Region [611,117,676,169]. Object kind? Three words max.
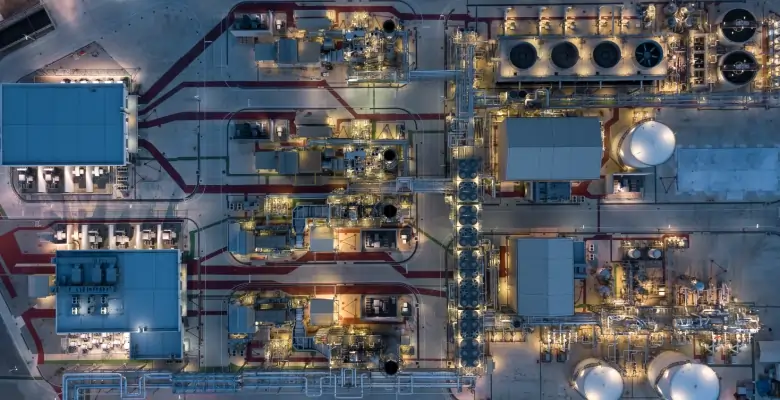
storage tank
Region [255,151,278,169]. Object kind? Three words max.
house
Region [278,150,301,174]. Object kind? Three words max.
house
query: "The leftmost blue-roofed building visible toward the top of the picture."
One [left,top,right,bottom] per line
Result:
[0,83,133,165]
